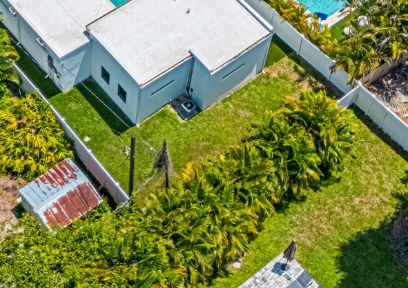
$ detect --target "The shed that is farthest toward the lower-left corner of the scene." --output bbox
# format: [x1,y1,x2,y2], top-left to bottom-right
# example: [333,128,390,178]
[19,158,104,240]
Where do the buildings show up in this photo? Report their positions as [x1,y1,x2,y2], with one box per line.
[0,0,273,128]
[19,158,104,240]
